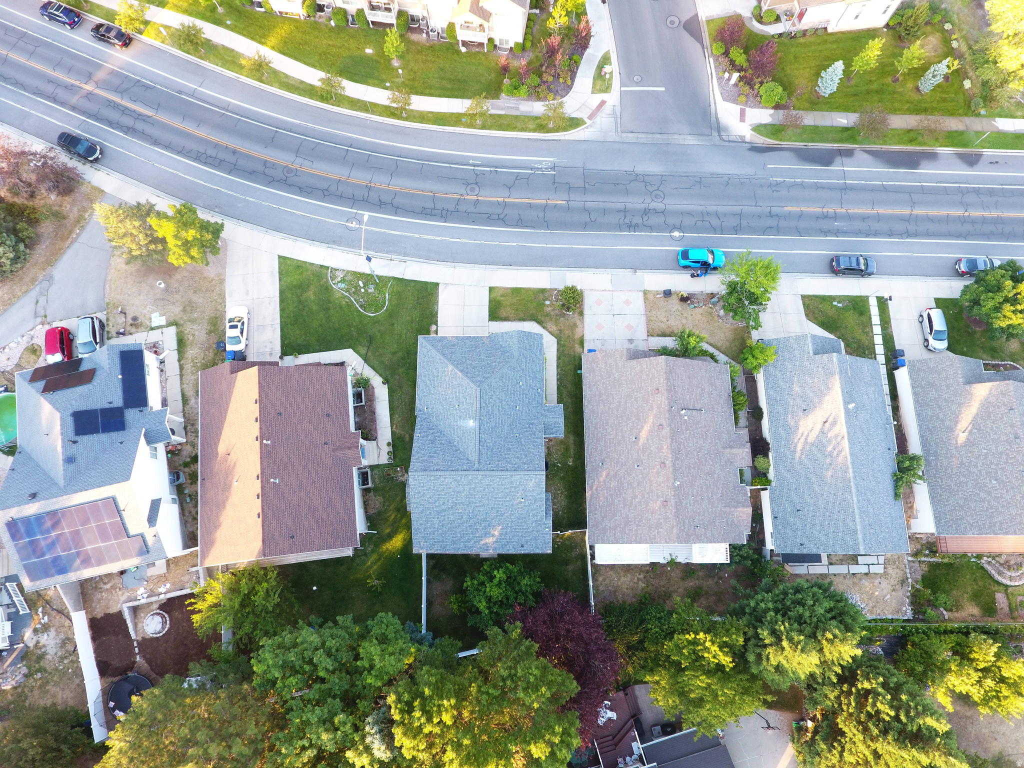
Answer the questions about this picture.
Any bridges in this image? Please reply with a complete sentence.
No, no bridge can be seen from above.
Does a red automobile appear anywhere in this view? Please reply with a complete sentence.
Yes, the image includes a red automobile.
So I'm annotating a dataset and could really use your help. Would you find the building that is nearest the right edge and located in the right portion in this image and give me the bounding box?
[891,355,1024,553]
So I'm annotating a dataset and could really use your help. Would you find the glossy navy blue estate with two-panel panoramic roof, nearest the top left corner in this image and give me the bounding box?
[37,1,87,30]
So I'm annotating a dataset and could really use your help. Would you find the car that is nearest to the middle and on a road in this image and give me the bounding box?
[677,247,724,276]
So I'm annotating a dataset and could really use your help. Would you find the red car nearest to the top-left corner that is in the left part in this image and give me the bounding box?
[48,324,72,362]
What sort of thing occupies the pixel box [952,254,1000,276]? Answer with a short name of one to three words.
car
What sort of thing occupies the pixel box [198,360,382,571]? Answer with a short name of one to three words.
house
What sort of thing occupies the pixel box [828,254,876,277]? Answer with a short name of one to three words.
car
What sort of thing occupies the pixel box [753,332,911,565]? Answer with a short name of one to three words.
house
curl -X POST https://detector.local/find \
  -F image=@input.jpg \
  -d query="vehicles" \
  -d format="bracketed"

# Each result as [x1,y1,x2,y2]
[952,254,1000,276]
[78,314,103,356]
[225,306,249,355]
[918,307,949,352]
[89,24,136,52]
[48,324,72,362]
[828,254,876,277]
[37,1,87,30]
[677,247,724,276]
[53,129,108,164]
